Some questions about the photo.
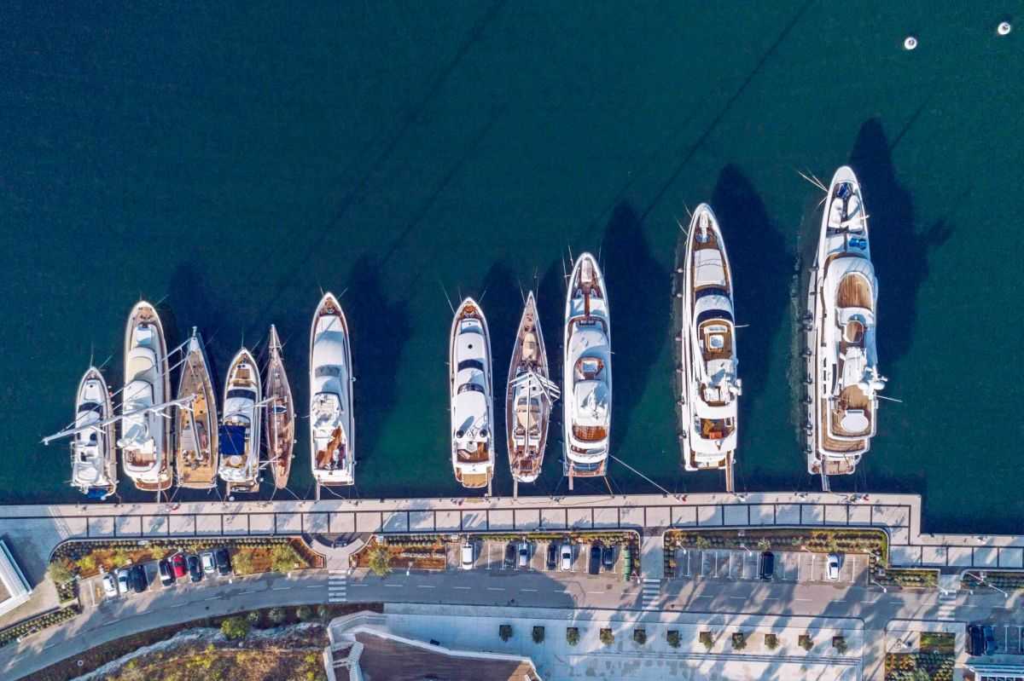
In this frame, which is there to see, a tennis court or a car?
car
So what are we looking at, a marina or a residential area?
marina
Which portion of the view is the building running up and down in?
bottom left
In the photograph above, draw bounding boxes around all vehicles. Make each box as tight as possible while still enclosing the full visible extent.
[588,543,602,574]
[174,554,188,578]
[966,625,983,654]
[603,544,615,568]
[203,551,217,573]
[218,548,232,574]
[103,571,119,594]
[131,563,149,592]
[758,551,773,580]
[189,556,203,581]
[560,544,572,569]
[825,554,839,578]
[505,546,516,569]
[160,559,176,585]
[545,544,557,569]
[517,542,529,565]
[118,568,132,593]
[461,542,473,569]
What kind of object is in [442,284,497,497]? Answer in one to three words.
boat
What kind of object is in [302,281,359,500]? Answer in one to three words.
boat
